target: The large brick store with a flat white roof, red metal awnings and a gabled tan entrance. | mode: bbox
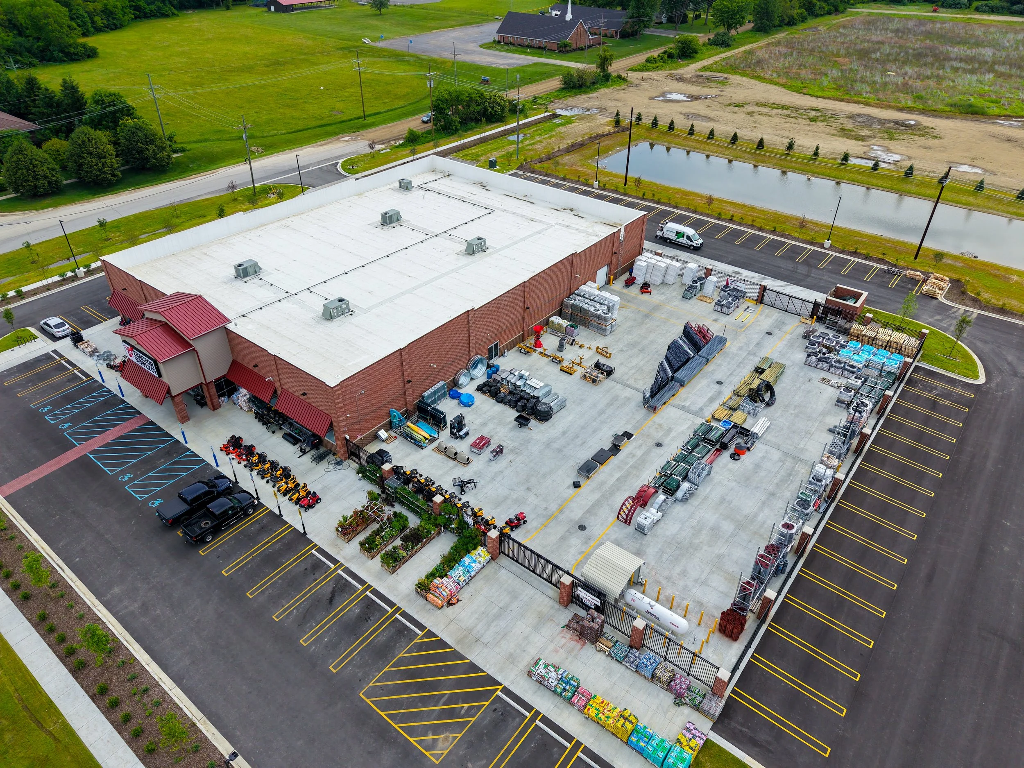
[104,154,643,461]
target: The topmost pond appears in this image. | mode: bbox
[600,143,1024,269]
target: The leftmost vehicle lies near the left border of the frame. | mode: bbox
[36,312,74,335]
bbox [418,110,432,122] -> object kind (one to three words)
vehicle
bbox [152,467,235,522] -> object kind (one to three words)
truck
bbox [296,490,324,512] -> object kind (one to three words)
work vehicle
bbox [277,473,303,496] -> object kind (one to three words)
work vehicle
